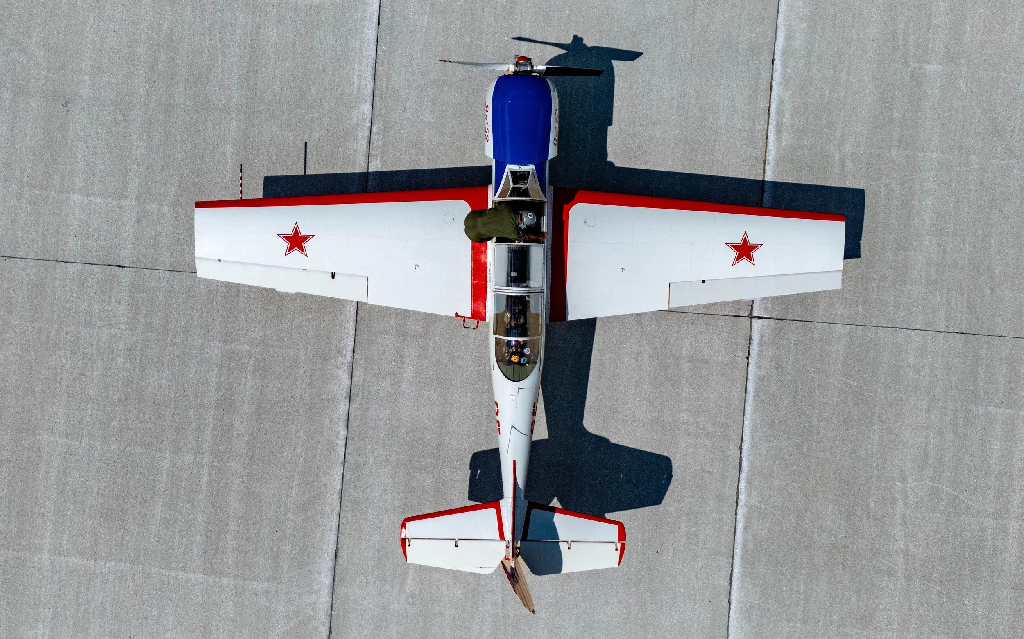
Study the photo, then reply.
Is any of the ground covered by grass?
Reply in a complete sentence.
No, the picture contains no grass.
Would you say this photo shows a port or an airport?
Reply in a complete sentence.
It's an airport.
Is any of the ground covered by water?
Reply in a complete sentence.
No, there is no water in the image.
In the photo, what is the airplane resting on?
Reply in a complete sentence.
The airplane is on the apron.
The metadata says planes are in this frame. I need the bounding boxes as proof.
[194,50,844,617]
